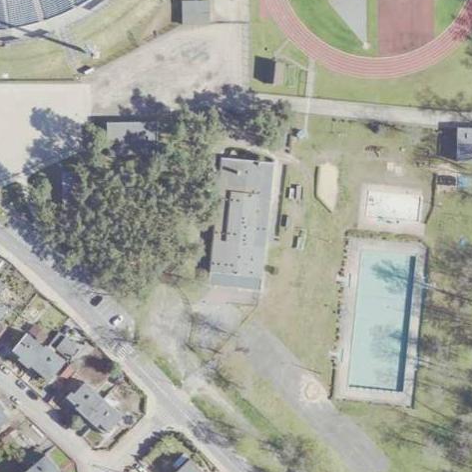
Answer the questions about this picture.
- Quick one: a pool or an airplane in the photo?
pool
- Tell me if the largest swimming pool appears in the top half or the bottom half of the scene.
bottom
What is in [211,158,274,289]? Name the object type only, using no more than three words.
building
